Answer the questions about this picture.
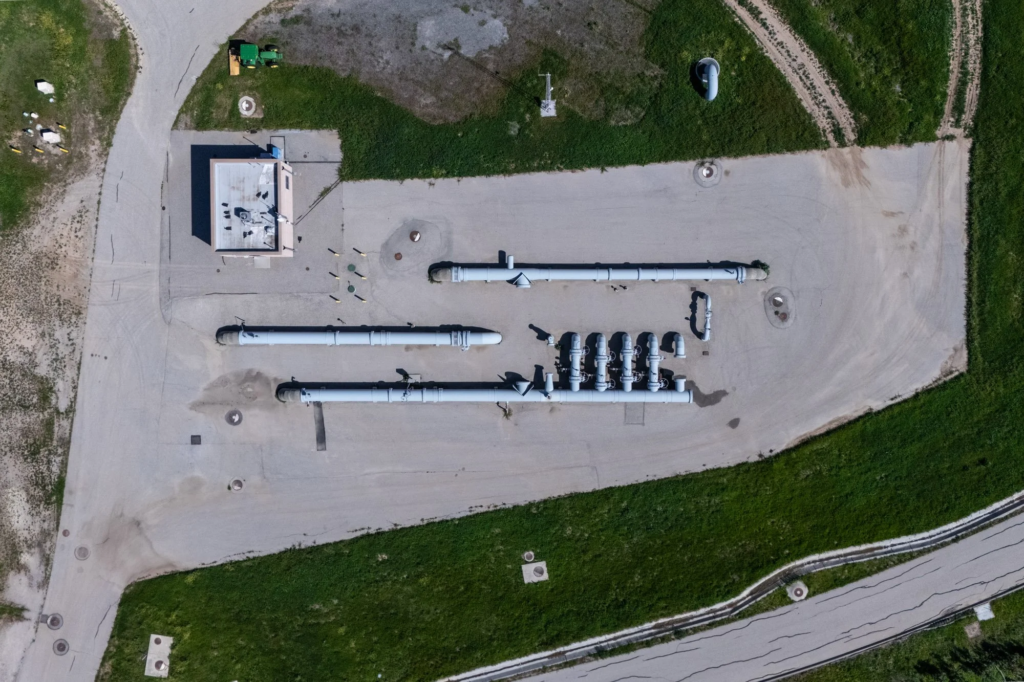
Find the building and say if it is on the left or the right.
left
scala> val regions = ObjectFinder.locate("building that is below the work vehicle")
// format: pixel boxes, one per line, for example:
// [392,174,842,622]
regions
[209,159,293,258]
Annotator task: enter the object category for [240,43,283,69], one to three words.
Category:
work vehicle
